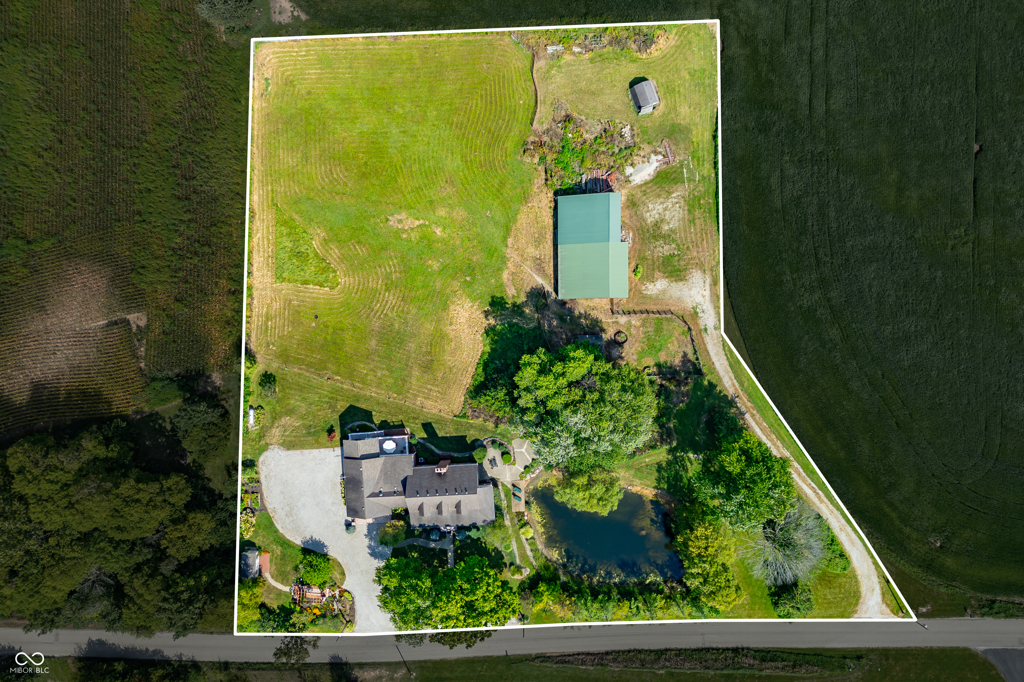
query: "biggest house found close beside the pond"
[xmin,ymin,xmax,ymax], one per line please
[339,427,496,533]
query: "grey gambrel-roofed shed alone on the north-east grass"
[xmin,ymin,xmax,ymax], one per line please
[629,81,659,121]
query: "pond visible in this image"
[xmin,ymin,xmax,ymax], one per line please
[534,482,678,583]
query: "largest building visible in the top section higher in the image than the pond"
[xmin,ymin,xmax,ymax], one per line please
[557,193,629,299]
